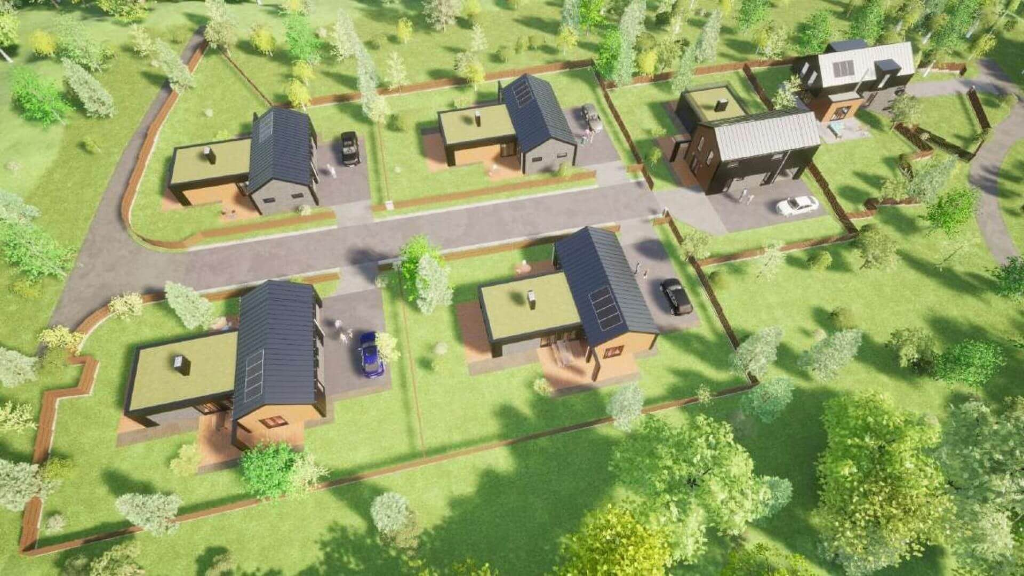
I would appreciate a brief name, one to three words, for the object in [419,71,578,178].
house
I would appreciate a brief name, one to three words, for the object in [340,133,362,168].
car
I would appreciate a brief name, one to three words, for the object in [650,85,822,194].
house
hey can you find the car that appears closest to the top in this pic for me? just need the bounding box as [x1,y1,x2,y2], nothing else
[578,102,604,134]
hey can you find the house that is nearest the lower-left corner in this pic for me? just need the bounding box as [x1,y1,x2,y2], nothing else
[115,278,335,473]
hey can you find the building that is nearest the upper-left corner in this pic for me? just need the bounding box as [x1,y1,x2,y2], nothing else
[157,104,322,221]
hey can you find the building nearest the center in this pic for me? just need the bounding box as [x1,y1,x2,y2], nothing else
[455,223,661,397]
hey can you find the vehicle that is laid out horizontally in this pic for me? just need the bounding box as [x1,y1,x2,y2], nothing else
[773,194,822,219]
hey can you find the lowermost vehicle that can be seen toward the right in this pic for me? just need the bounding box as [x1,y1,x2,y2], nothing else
[659,277,694,321]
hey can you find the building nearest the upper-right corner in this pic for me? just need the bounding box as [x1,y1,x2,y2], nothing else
[780,37,916,124]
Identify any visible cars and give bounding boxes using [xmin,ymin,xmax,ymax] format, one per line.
[578,102,604,134]
[357,334,387,382]
[773,194,822,219]
[340,133,362,168]
[659,277,694,321]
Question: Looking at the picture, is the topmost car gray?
Yes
